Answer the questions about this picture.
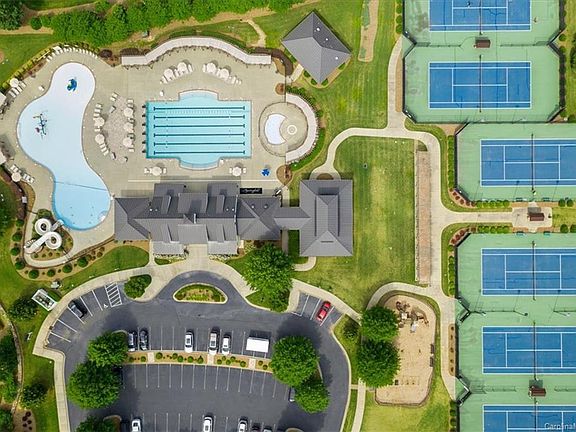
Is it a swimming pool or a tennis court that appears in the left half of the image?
swimming pool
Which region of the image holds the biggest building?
center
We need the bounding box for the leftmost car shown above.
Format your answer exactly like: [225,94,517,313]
[68,299,87,320]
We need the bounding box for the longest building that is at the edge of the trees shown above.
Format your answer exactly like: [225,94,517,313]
[113,180,353,256]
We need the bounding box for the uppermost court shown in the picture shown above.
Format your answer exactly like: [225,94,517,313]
[403,0,560,45]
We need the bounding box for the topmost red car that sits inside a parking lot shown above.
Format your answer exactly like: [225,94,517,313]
[317,302,330,323]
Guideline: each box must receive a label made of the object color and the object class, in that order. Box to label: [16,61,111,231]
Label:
white swimming pool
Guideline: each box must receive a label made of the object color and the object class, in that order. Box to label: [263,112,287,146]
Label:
white swimming pool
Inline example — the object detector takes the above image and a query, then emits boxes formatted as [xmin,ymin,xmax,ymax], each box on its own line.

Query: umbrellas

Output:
[95,117,105,127]
[123,123,134,133]
[94,134,106,145]
[123,107,134,118]
[164,69,174,79]
[11,172,22,182]
[177,62,188,73]
[10,78,20,88]
[206,63,217,74]
[152,166,163,177]
[123,137,134,147]
[232,166,242,177]
[219,69,230,80]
